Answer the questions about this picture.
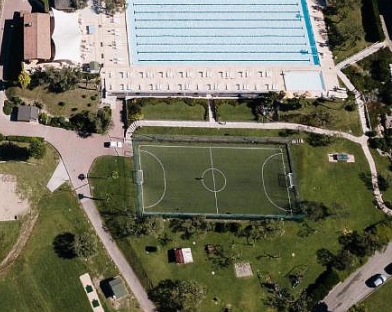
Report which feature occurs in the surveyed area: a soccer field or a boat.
soccer field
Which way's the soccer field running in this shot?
from side to side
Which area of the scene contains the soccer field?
center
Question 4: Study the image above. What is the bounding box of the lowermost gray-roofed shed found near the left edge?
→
[14,105,40,123]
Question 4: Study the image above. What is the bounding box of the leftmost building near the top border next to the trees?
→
[19,11,56,73]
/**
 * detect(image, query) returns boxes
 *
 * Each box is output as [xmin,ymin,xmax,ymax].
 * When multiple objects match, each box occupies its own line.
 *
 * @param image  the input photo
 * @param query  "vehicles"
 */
[370,272,390,289]
[108,142,119,149]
